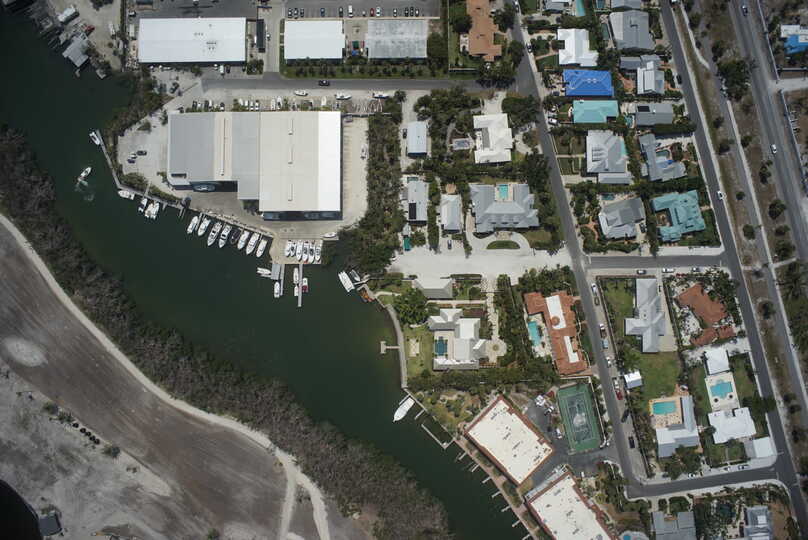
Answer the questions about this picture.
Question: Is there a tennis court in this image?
Yes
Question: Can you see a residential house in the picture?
Yes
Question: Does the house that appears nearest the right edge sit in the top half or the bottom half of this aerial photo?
top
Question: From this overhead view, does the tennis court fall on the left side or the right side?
right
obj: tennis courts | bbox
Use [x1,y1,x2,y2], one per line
[559,384,600,452]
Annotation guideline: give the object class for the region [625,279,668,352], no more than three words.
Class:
house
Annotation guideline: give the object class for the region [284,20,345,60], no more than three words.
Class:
building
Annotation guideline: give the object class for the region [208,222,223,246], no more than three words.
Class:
boat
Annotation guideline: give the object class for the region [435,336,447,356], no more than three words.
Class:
swimming pool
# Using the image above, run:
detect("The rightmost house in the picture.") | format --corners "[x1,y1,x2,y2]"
[780,25,808,54]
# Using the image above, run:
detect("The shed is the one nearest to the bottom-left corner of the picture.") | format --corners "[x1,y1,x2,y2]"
[39,511,62,534]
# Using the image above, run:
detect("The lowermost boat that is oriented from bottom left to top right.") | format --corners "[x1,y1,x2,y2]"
[393,396,417,422]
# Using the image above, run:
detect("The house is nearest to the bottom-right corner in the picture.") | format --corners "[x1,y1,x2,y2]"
[743,505,772,540]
